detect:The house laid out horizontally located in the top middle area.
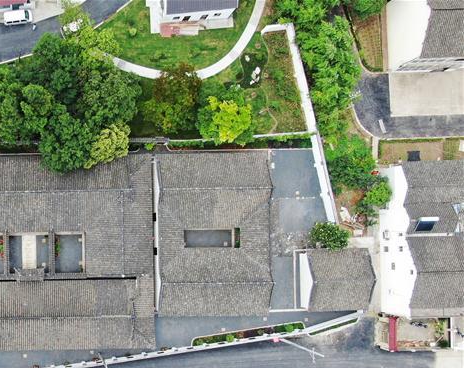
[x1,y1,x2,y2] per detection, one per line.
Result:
[159,0,247,37]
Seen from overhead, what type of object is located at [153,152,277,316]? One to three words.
building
